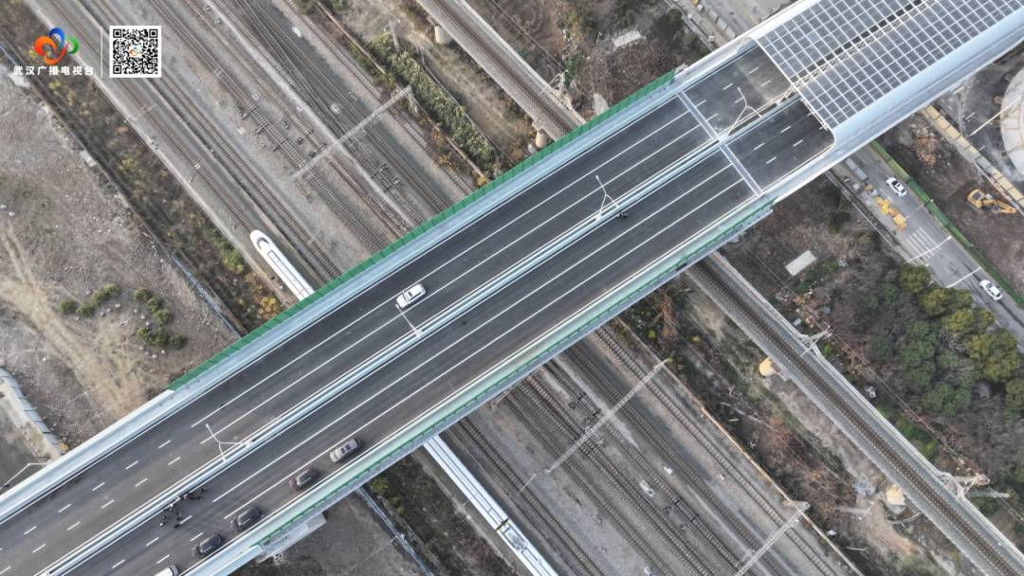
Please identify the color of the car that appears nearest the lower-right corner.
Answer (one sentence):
In this view, the car that appears nearest the lower-right corner is white.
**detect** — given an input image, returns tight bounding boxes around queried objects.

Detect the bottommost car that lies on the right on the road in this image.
[979,278,1003,300]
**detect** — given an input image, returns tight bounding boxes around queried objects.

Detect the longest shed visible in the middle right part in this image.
[782,250,816,278]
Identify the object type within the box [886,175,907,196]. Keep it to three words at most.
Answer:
car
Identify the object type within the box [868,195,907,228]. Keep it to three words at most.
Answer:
work vehicle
